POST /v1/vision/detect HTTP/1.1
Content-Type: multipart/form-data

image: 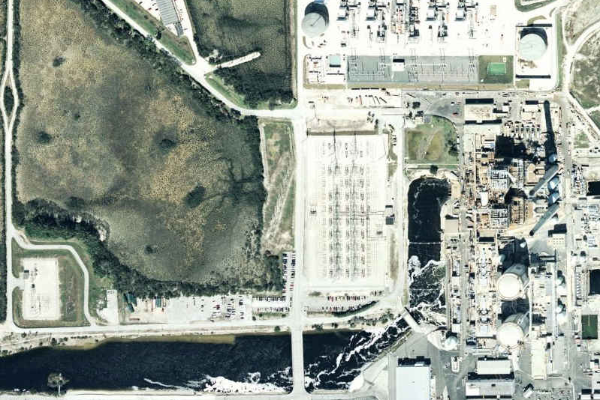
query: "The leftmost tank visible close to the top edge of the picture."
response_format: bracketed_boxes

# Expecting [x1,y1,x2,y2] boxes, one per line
[302,8,331,37]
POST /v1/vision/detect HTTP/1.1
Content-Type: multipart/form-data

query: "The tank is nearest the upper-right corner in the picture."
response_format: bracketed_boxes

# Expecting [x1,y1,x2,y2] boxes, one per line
[519,31,548,60]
